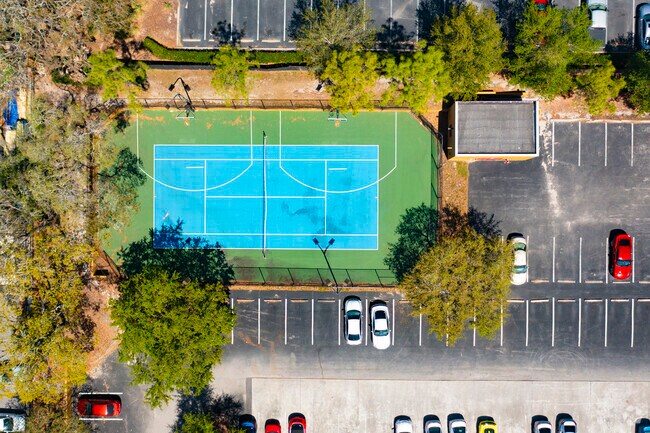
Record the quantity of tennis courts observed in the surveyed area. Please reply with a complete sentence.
The picture shows 1 tennis court.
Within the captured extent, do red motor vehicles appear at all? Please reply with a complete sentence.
Yes, a red motor vehicle appears in the view.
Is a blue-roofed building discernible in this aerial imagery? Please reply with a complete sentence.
No, the frame has no blue-roofed building in it.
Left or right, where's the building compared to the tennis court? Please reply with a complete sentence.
Relative to the tennis court, the building lies to the right.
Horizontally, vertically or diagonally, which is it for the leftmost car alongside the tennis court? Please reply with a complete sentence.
The leftmost car alongside the tennis court is oriented vertically.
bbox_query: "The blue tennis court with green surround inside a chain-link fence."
[93,107,439,286]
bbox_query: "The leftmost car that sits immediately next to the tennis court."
[342,298,363,345]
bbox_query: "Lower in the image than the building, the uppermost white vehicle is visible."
[508,238,530,285]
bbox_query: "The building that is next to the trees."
[448,100,540,161]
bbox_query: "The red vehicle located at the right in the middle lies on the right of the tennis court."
[609,234,633,279]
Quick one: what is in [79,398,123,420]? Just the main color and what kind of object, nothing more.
red car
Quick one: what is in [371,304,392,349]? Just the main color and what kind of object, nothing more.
white car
